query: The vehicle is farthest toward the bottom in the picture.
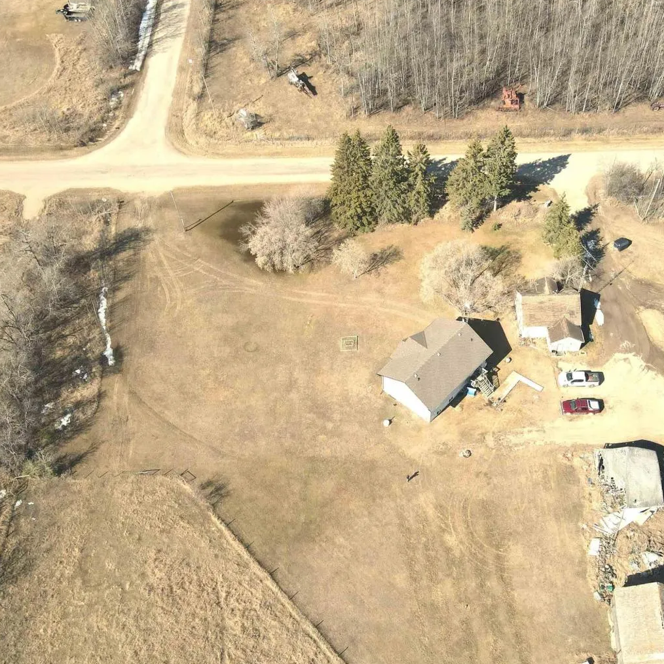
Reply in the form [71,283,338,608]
[560,397,605,415]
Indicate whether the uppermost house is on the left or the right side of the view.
right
